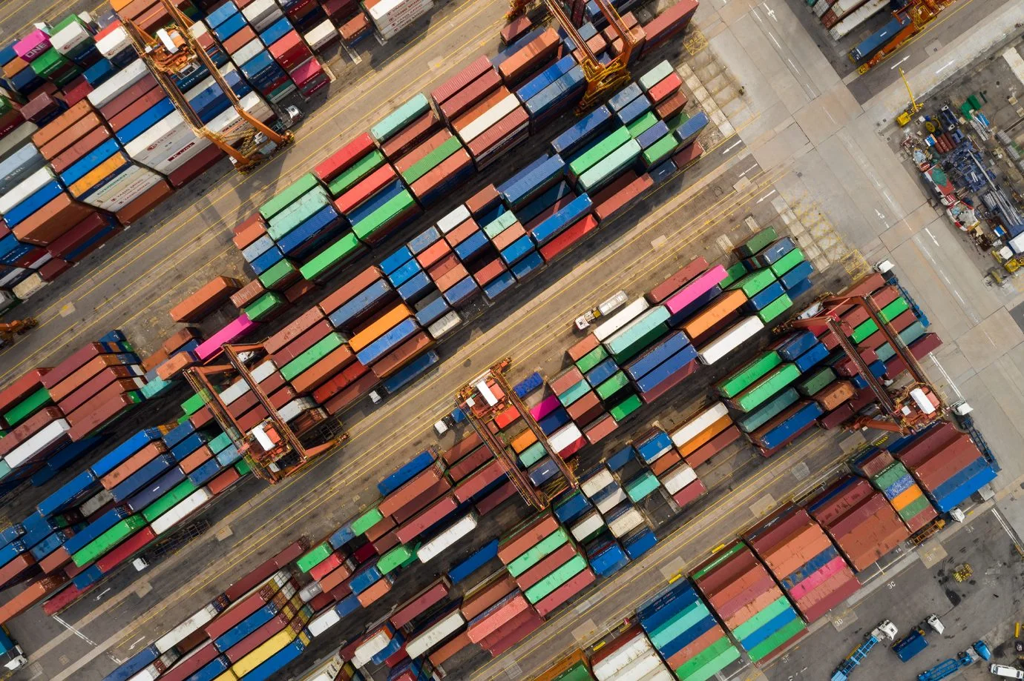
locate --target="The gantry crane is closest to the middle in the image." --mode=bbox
[454,354,588,519]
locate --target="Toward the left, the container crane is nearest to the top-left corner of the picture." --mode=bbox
[114,0,295,170]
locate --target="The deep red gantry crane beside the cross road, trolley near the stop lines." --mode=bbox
[772,287,954,442]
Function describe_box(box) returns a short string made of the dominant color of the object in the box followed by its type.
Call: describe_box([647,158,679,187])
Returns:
black shipping container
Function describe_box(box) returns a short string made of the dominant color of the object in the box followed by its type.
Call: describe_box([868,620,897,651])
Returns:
white truck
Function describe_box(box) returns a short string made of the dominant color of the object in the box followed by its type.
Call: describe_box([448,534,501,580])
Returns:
blue shipping container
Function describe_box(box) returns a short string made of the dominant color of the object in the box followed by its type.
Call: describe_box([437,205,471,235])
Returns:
white shipping container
